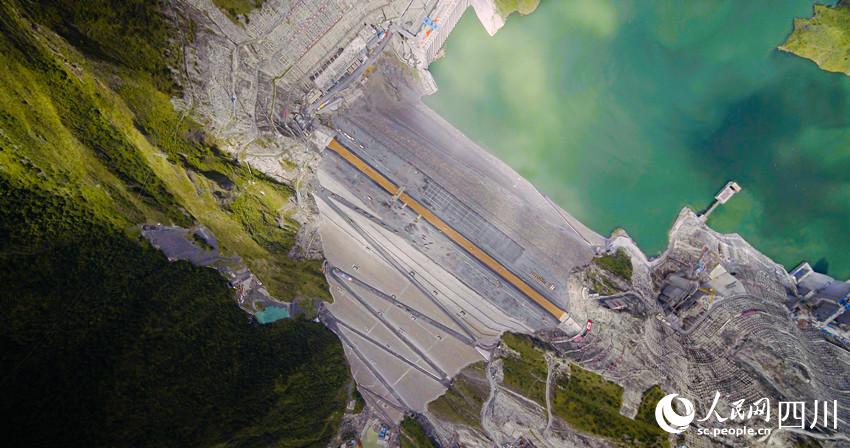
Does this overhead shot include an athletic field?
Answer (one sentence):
No, there is no athletic field in the image.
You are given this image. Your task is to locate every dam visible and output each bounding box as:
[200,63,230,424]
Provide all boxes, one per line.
[314,58,608,433]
